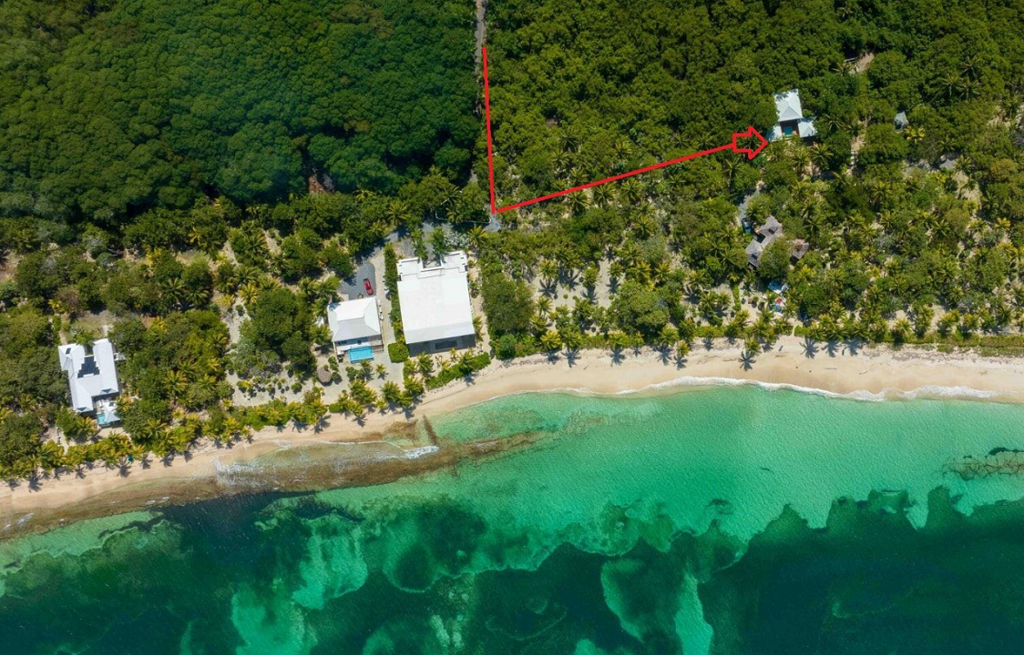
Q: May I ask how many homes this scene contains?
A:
5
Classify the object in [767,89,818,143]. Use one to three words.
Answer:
house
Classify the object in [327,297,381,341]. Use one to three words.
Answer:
house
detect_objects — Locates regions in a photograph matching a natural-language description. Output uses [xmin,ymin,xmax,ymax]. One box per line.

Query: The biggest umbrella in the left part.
[317,367,333,383]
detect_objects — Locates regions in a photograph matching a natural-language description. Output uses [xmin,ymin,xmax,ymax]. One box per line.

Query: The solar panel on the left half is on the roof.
[78,356,100,378]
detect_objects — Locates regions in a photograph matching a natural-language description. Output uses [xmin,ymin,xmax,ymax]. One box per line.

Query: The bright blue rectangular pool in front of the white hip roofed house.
[348,346,375,363]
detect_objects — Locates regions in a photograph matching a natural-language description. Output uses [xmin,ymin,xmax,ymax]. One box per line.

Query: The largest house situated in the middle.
[397,251,476,357]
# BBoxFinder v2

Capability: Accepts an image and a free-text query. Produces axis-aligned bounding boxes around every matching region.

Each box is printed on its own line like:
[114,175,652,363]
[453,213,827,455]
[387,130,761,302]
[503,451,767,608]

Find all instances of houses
[59,339,124,412]
[327,297,381,341]
[743,214,782,270]
[397,251,476,357]
[767,89,818,143]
